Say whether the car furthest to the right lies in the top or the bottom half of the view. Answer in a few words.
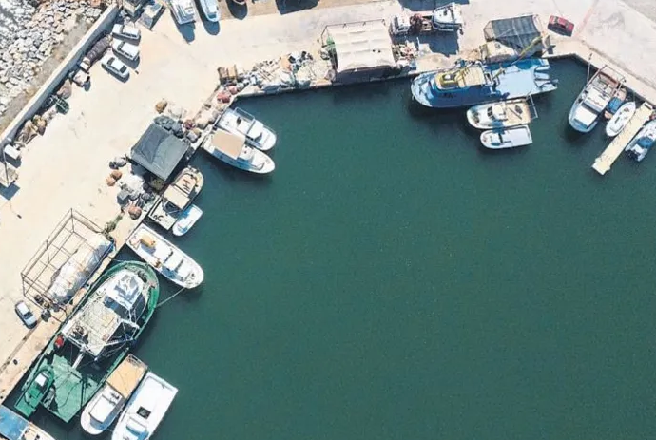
top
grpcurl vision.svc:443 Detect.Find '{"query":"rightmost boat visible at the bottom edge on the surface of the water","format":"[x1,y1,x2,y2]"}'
[117,373,178,440]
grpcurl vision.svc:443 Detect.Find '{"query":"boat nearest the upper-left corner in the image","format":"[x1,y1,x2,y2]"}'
[169,0,197,25]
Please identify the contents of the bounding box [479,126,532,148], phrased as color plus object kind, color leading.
white boat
